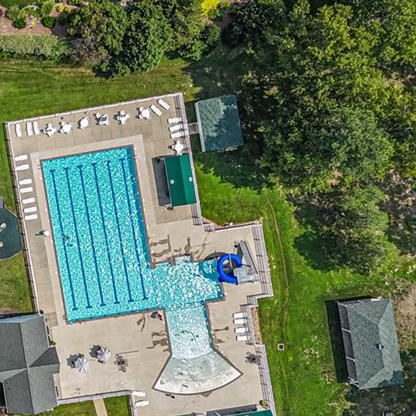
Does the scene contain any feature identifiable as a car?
No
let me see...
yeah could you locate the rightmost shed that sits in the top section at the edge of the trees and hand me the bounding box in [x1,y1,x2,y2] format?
[190,96,242,152]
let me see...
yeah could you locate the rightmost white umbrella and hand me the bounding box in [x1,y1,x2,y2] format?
[95,348,112,364]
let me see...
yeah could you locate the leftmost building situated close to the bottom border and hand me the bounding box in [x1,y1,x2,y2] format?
[0,314,60,416]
